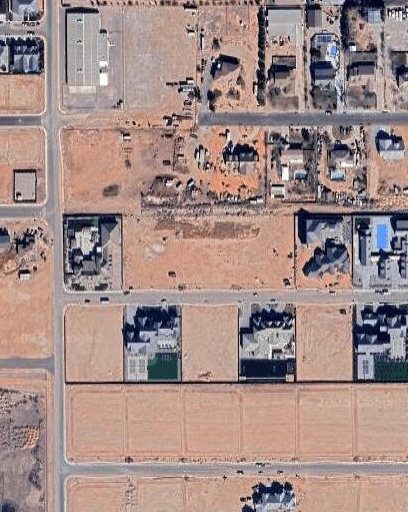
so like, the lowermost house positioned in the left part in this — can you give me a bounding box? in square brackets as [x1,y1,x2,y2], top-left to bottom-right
[130,312,181,354]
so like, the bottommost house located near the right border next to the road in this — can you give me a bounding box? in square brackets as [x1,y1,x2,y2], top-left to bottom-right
[355,311,408,352]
